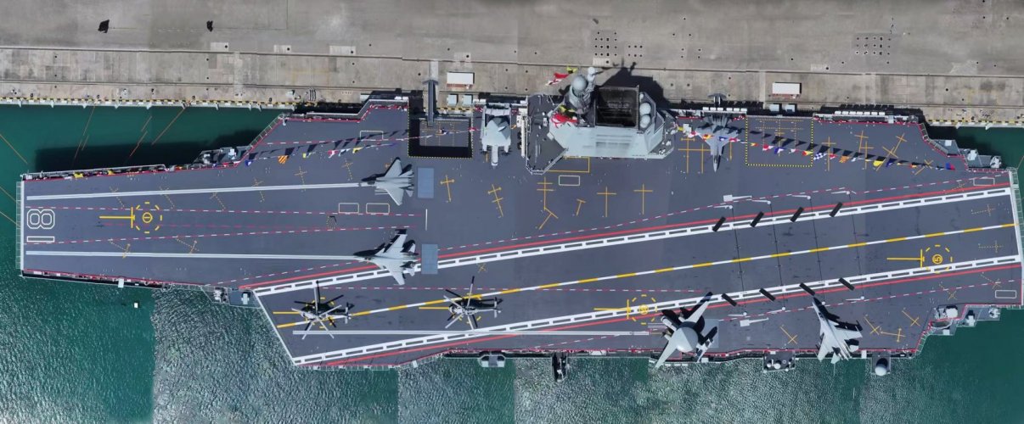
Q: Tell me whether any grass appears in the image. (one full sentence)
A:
No, there is no grass in the image.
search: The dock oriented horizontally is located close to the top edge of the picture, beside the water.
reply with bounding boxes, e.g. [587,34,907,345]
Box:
[0,0,1024,135]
